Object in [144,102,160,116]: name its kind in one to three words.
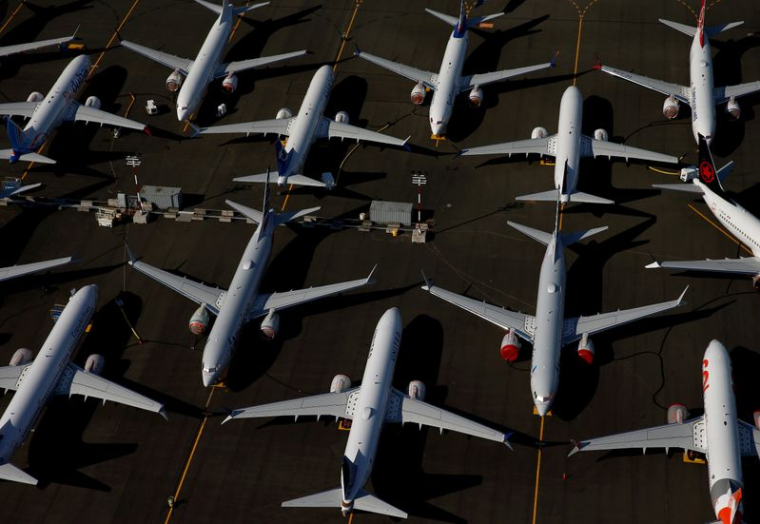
vehicle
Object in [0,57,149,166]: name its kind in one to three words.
airplane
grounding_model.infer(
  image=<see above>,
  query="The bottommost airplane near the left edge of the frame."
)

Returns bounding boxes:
[0,286,167,486]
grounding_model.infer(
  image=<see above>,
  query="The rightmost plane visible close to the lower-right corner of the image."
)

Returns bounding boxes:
[570,341,760,524]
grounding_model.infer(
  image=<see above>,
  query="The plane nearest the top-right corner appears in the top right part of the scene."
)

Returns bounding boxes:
[594,0,760,154]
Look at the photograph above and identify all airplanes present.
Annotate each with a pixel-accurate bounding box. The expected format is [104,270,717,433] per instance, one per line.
[126,163,378,387]
[114,0,314,124]
[421,182,689,418]
[0,0,79,56]
[0,57,149,166]
[0,286,167,486]
[451,87,688,206]
[594,0,760,154]
[353,0,560,138]
[570,341,760,524]
[218,310,515,522]
[649,134,760,288]
[188,67,412,188]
